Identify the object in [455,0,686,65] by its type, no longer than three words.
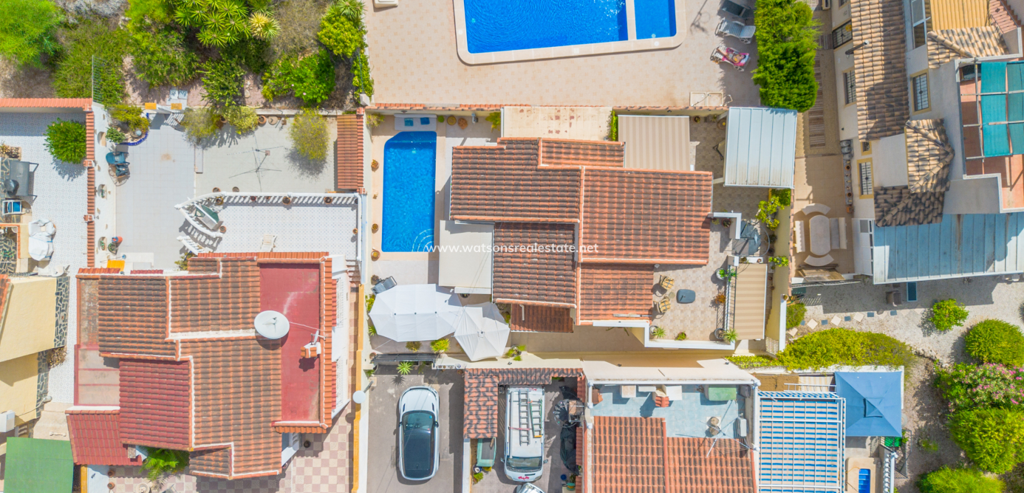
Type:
swimming pool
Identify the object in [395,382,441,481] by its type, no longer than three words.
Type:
car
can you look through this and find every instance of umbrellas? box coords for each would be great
[833,372,902,437]
[370,284,463,342]
[712,143,725,159]
[454,302,509,361]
